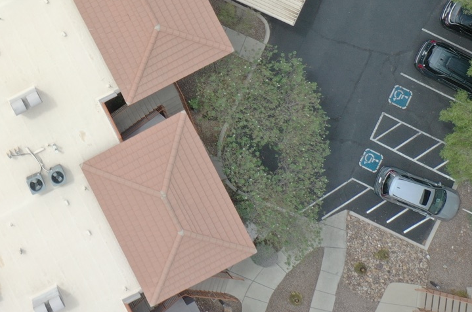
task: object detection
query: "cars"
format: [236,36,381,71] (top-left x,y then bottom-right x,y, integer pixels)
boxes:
[366,165,460,226]
[435,0,472,47]
[406,44,472,111]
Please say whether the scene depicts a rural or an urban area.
urban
